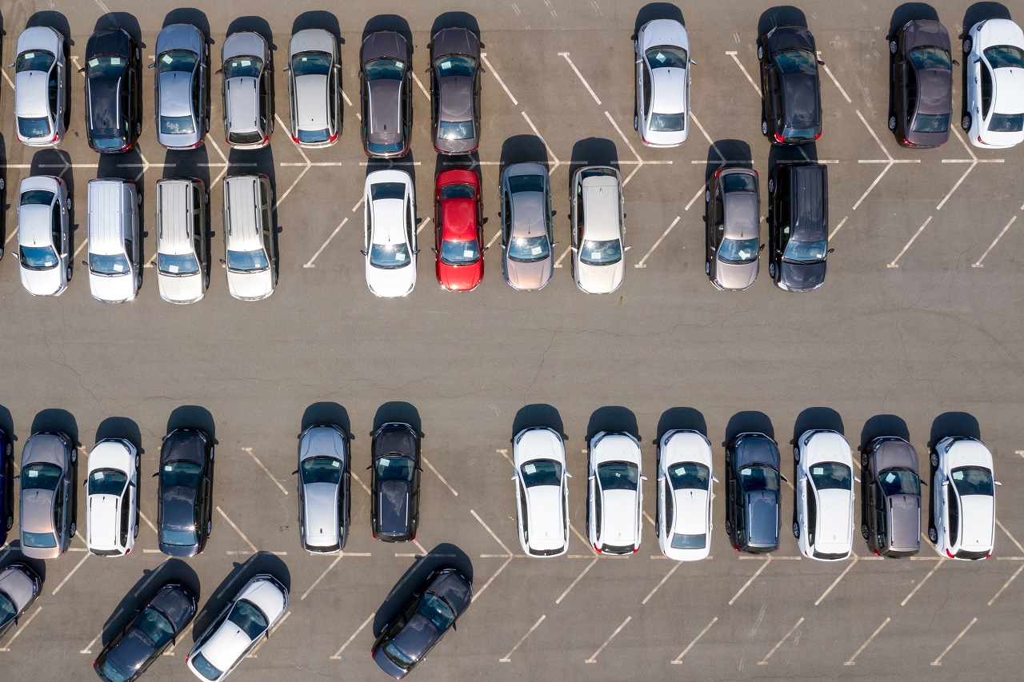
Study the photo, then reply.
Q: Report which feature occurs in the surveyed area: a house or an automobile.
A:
automobile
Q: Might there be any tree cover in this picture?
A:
No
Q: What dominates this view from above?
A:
paved ground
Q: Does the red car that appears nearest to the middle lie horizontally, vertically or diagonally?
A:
vertically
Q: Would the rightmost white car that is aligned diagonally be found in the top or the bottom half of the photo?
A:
bottom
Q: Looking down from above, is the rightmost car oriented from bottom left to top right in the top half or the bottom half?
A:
bottom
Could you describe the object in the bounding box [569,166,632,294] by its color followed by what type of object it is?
white car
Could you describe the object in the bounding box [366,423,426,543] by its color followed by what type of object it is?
black car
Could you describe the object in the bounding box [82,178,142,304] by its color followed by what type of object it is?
white van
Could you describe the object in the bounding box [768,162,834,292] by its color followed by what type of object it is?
black van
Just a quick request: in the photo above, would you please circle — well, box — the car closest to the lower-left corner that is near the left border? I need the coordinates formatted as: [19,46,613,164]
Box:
[0,562,44,651]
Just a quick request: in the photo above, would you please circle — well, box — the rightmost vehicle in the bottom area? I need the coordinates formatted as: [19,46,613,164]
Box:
[929,437,1000,560]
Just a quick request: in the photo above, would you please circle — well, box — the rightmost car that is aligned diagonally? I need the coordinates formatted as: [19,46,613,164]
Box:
[371,566,470,682]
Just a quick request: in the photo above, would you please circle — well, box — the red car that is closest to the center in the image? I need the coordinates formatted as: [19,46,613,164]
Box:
[430,169,489,292]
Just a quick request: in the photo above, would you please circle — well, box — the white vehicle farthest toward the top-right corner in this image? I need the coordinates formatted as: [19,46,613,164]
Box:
[961,19,1024,149]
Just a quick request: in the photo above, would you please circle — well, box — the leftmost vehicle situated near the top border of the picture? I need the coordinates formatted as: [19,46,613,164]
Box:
[8,26,68,146]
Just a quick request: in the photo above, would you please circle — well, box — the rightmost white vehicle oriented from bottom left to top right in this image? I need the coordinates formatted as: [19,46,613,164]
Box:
[185,573,284,682]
